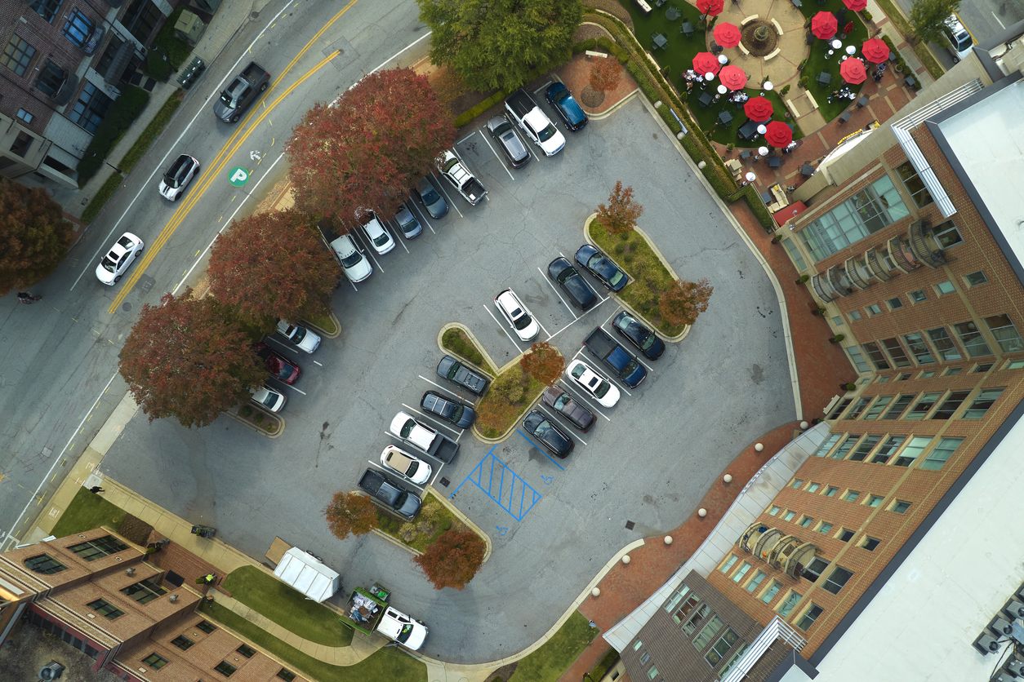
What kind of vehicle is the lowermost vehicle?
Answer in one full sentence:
In the photo, the lowermost vehicle shows up as a truck.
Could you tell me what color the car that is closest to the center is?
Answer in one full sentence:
The car that is closest to the center looks white in the image.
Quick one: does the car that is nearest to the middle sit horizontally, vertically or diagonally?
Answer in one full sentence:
From this overhead view, the car that is nearest to the middle appears to run diagonally.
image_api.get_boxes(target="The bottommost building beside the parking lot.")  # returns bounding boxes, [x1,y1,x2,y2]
[0,526,311,682]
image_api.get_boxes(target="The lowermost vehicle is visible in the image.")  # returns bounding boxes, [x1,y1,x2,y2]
[340,586,428,651]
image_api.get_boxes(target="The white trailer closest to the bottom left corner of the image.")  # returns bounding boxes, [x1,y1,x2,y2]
[266,537,345,606]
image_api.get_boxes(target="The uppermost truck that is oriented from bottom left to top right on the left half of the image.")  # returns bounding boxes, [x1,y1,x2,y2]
[214,57,271,120]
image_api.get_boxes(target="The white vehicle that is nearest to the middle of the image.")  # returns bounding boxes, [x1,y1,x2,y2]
[495,288,537,340]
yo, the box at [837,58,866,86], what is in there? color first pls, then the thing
red umbrella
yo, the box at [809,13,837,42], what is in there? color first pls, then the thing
red umbrella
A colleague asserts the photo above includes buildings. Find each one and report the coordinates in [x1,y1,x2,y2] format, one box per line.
[0,0,178,200]
[592,69,1024,682]
[0,526,311,682]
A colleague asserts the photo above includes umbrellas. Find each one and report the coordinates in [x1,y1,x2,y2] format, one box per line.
[839,0,867,13]
[695,0,723,20]
[837,58,866,86]
[744,96,772,123]
[719,65,746,93]
[809,13,837,42]
[763,121,792,149]
[714,23,742,51]
[861,39,889,65]
[692,52,720,79]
